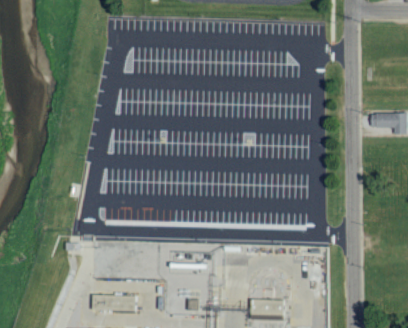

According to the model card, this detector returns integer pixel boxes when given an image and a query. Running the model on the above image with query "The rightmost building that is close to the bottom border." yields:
[251,300,286,320]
